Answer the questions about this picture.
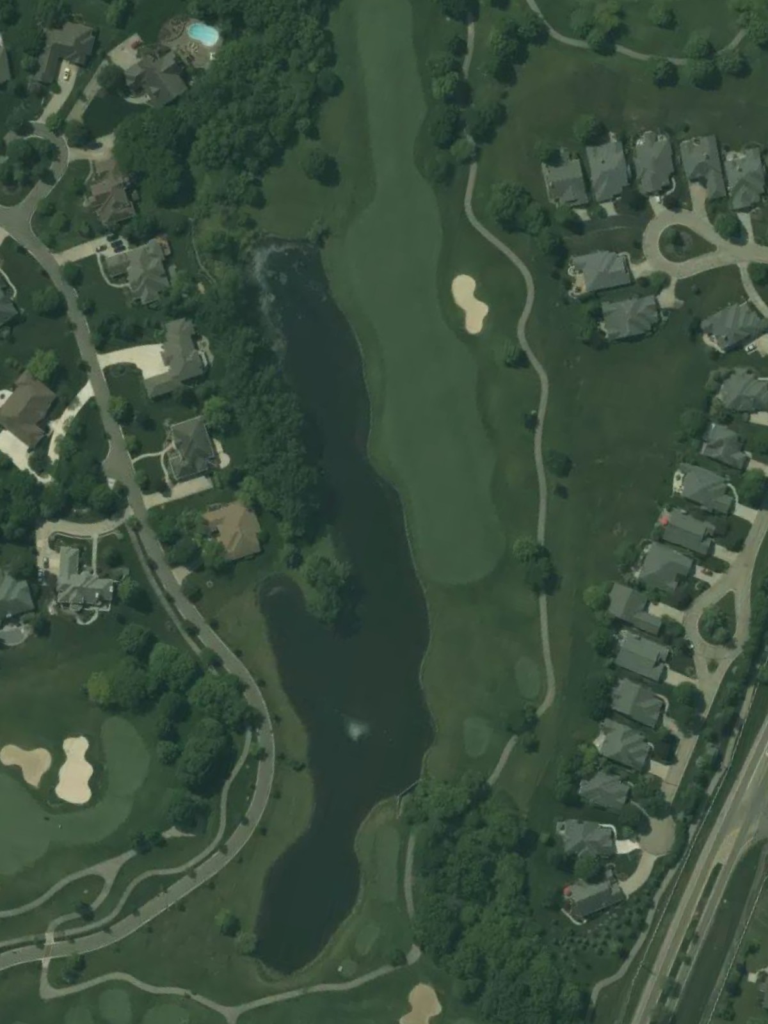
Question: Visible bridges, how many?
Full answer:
I count no bridges.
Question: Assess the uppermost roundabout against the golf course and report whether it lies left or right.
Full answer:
You can see the uppermost roundabout positioned to the right of the golf course.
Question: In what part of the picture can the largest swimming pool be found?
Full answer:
The largest swimming pool appears toward the top left of the photo.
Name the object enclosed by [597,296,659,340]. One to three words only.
house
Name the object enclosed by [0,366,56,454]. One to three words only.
house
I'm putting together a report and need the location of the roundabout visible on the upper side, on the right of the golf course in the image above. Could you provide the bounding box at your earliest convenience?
[642,209,768,280]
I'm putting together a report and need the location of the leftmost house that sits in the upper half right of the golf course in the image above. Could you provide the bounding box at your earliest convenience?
[546,161,589,208]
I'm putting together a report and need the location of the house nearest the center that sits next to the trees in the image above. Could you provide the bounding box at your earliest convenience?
[202,501,266,563]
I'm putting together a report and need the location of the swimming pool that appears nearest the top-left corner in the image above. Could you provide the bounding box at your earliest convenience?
[186,22,221,47]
